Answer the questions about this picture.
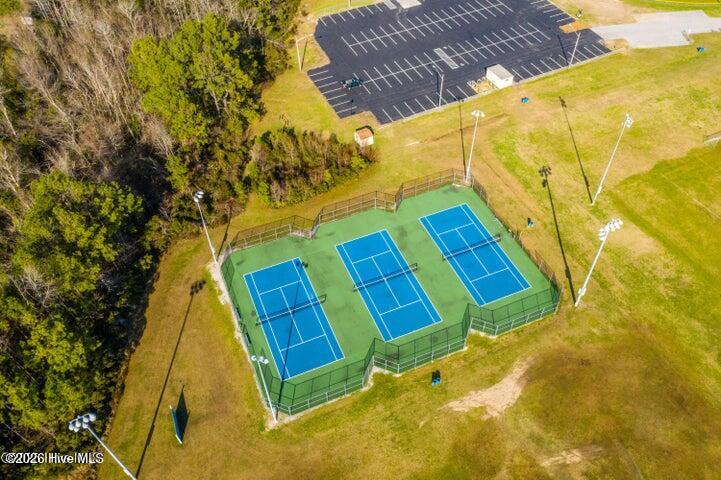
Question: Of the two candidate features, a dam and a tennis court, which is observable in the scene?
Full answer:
This aerial view contains a tennis court.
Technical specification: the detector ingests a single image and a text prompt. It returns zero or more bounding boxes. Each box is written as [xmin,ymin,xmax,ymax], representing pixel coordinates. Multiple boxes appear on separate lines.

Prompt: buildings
[354,127,374,146]
[487,64,517,89]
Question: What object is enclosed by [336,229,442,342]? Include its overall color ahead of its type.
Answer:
blue tennis court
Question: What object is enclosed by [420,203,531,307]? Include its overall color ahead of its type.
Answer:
blue tennis court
